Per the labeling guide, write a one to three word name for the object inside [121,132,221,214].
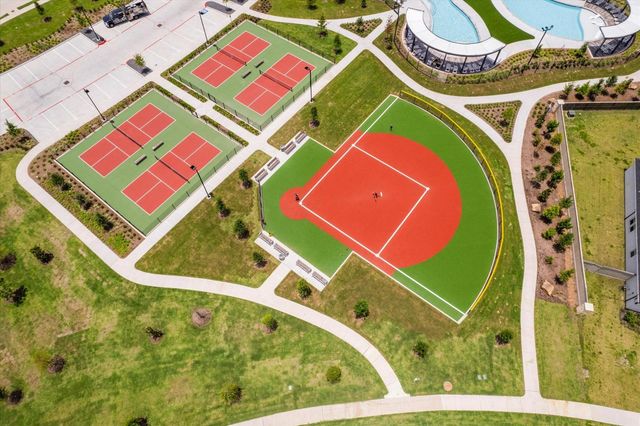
sports court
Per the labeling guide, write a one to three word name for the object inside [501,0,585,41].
swimming pool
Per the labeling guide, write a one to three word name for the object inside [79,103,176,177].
sports court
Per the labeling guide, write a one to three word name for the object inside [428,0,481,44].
swimming pool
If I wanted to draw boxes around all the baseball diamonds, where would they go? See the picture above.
[262,94,499,324]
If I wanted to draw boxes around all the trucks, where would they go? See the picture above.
[99,0,147,27]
